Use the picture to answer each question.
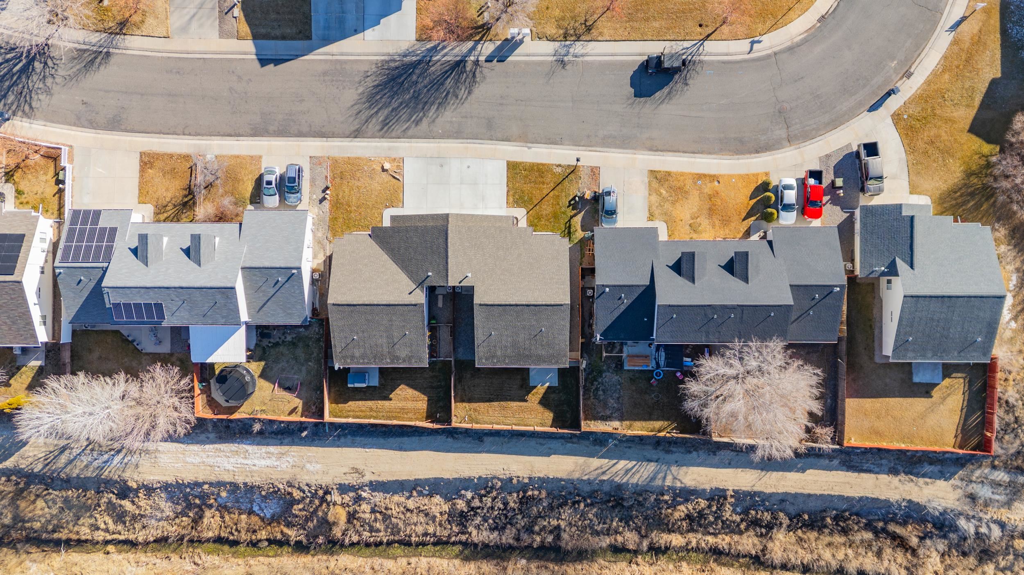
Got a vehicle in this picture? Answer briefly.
Yes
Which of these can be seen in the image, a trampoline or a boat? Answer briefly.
trampoline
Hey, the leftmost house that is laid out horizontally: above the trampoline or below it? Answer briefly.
above it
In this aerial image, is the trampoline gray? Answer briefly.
Yes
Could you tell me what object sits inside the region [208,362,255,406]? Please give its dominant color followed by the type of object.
gray trampoline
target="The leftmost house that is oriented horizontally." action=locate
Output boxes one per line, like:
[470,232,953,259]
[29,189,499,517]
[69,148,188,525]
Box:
[54,208,313,326]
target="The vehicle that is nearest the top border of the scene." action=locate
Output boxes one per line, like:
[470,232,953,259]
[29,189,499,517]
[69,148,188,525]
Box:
[643,51,682,73]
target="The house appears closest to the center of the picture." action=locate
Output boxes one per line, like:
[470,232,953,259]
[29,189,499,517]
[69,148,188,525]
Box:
[327,212,571,367]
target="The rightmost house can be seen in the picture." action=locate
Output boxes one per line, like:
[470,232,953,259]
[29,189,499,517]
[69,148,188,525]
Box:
[853,203,1007,363]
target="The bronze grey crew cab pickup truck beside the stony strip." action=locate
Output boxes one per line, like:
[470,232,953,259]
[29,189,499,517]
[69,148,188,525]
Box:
[857,141,884,196]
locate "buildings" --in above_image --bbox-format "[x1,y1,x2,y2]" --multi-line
[327,212,571,367]
[593,226,848,344]
[54,208,313,326]
[853,203,1007,363]
[0,208,52,347]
